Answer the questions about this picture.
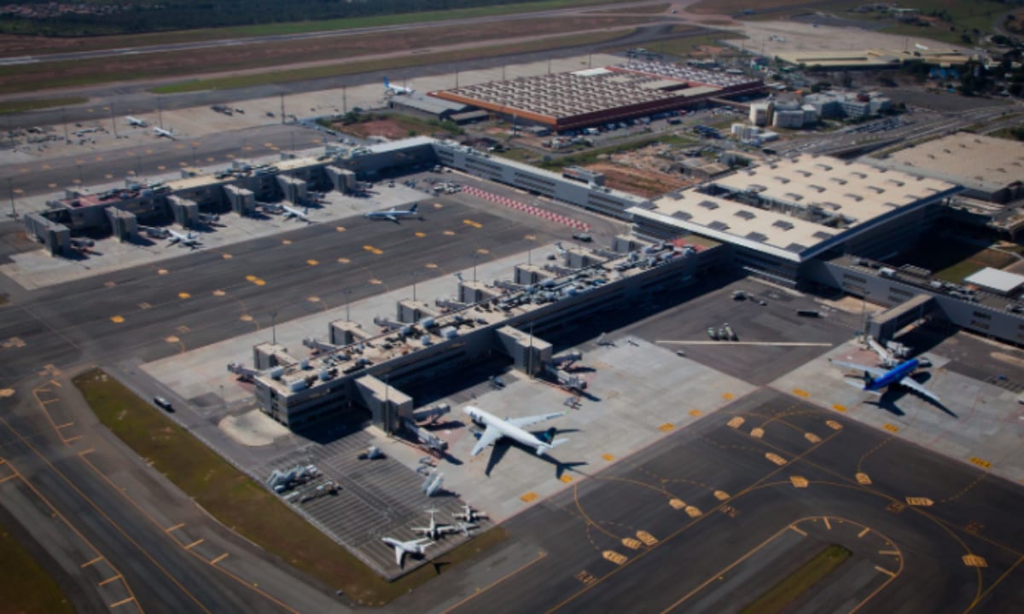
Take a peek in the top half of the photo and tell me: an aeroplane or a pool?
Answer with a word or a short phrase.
aeroplane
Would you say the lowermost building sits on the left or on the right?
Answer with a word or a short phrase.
right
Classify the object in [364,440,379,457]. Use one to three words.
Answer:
work vehicle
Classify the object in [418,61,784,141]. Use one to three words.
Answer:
building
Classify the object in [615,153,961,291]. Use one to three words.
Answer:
building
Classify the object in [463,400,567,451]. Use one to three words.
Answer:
airplane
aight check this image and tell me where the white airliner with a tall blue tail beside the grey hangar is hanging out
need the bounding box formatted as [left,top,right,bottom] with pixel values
[386,78,415,94]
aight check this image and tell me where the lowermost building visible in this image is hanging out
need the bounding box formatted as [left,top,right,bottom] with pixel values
[965,266,1024,301]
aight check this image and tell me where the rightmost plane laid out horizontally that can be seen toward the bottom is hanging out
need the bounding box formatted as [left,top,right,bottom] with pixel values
[837,353,939,396]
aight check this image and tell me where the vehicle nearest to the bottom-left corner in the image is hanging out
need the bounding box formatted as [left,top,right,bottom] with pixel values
[154,393,171,409]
